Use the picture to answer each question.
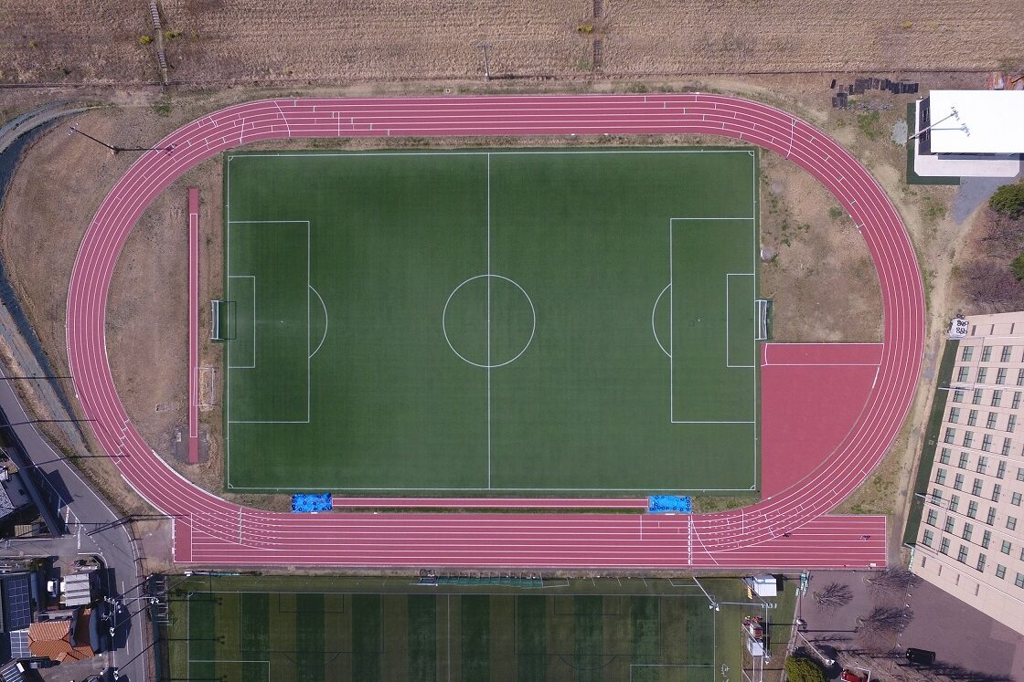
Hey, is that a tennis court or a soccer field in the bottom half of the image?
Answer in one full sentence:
What appears in the bottom half of the image is a soccer field.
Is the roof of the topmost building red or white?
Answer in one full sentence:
From above, the roof of the topmost building appears white.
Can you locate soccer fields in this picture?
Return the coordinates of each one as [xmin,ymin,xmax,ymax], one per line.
[211,145,774,495]
[183,587,720,682]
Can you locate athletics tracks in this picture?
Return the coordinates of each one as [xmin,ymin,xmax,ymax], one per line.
[66,92,925,569]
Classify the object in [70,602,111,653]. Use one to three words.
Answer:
house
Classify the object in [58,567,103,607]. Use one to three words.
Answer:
building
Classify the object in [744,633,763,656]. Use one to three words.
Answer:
shed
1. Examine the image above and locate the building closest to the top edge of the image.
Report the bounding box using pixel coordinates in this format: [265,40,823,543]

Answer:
[914,89,1024,177]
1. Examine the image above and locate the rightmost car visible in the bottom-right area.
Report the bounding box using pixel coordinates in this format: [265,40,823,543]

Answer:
[907,649,938,665]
